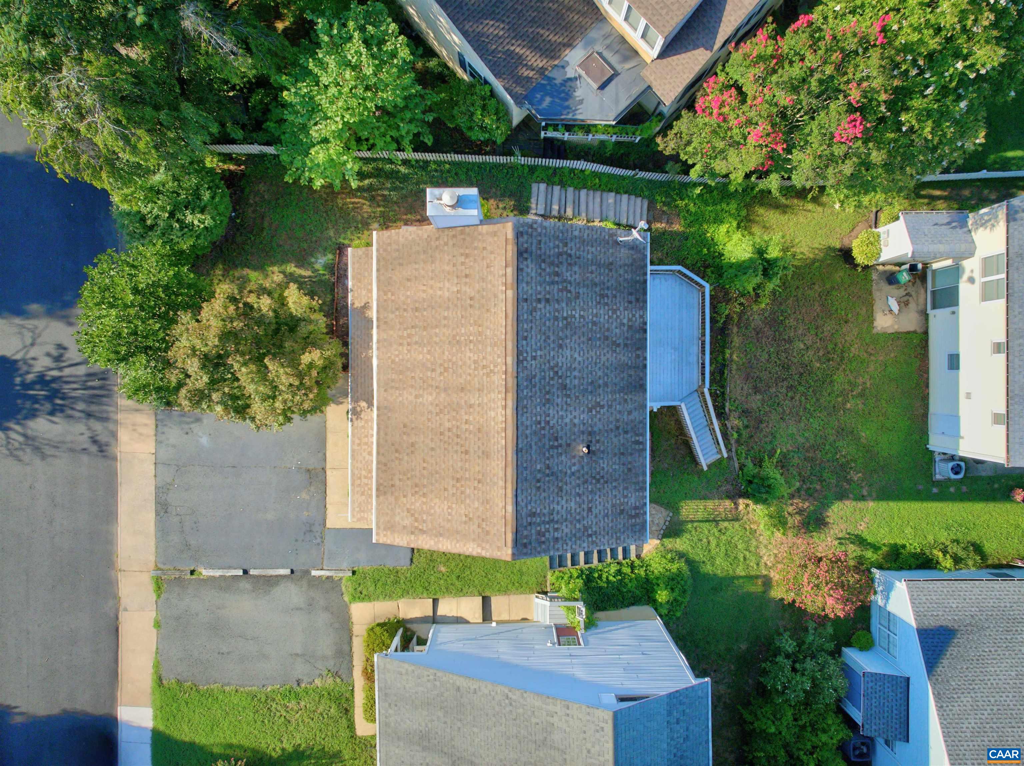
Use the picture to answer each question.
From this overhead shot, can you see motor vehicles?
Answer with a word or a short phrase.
No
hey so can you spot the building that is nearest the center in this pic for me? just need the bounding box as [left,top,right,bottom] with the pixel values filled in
[341,215,653,561]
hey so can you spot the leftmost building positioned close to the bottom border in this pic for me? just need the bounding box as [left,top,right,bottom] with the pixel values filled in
[374,603,710,766]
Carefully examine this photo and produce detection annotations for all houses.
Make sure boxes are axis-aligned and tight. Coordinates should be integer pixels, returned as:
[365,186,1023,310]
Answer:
[922,201,1024,469]
[374,603,710,766]
[398,0,762,141]
[865,565,1024,766]
[341,215,653,561]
